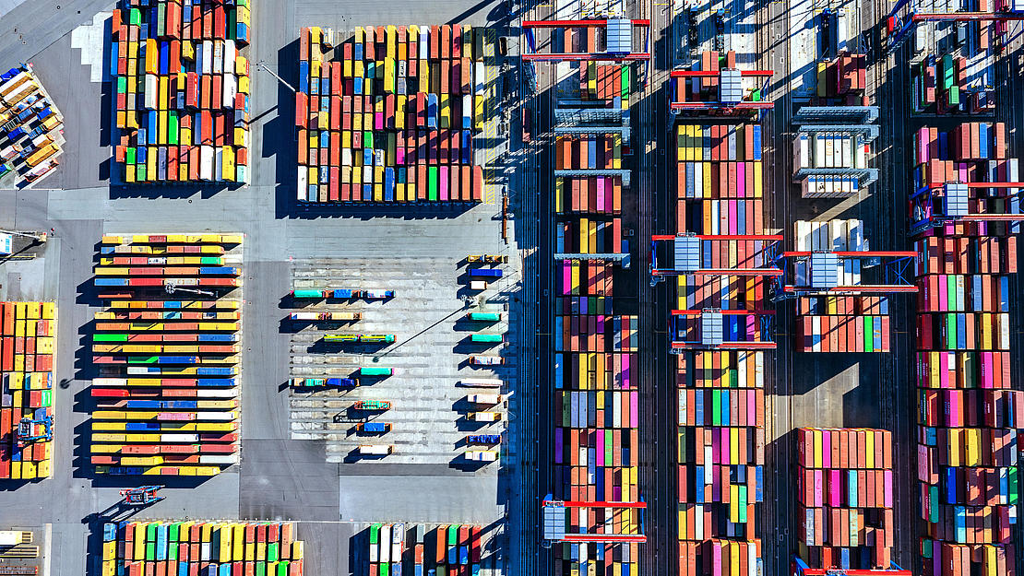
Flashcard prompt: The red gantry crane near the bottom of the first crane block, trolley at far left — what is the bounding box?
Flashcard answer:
[542,484,648,550]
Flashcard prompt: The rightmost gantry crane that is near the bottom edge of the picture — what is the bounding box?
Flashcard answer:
[790,546,912,576]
